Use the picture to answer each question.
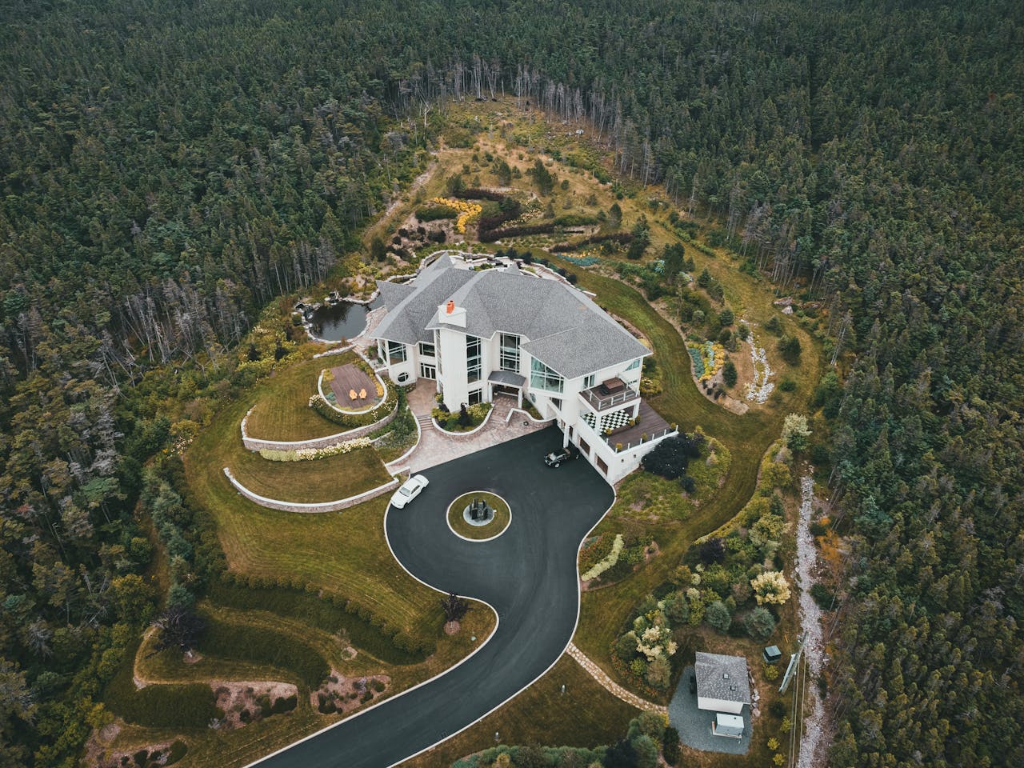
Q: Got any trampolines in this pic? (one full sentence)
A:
No, the scene contains no trampoline.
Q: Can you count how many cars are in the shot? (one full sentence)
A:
The number of cars here is 2.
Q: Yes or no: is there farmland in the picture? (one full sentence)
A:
No, the scene doesn't show any farmland.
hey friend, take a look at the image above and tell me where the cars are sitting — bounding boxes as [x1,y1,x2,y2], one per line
[541,443,575,466]
[390,469,432,503]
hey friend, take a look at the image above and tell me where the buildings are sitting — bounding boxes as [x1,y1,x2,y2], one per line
[693,648,754,714]
[369,252,672,484]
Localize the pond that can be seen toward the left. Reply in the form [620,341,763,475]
[306,293,380,342]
